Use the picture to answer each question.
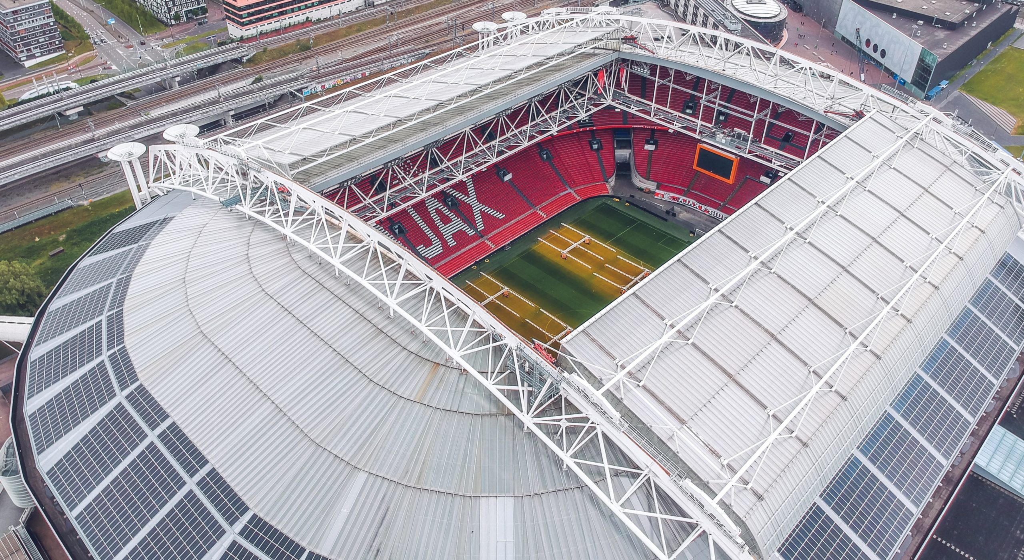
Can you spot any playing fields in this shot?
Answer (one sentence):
Yes, there is a playing field in the image.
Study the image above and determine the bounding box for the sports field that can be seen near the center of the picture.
[466,204,688,354]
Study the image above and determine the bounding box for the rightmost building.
[833,0,1024,98]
